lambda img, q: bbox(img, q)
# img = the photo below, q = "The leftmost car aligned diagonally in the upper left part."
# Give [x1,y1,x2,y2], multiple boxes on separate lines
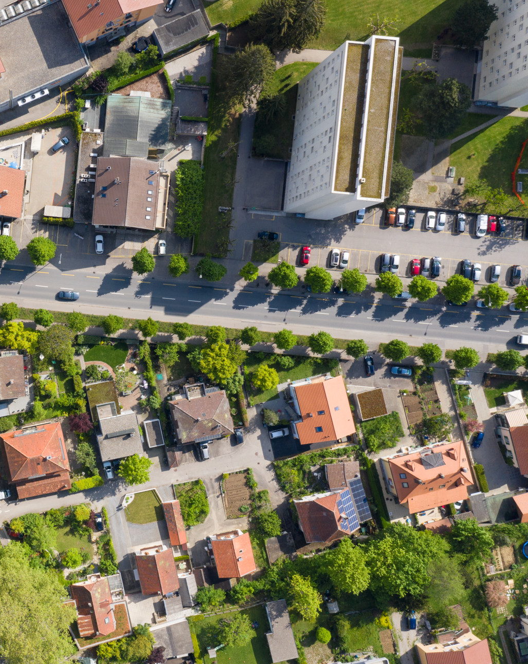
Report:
[51,136,70,153]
